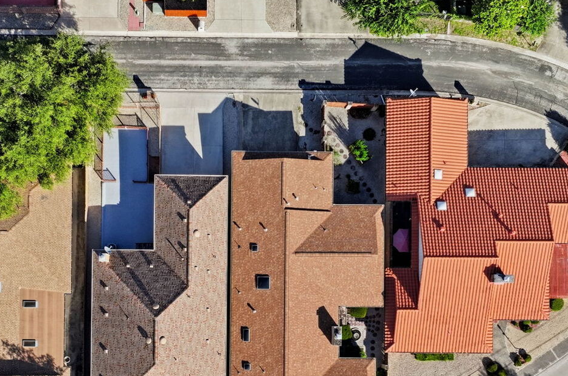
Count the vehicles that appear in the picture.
0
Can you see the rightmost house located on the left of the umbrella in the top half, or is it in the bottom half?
bottom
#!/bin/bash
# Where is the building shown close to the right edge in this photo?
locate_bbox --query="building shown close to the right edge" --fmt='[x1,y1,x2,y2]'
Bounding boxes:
[383,88,568,353]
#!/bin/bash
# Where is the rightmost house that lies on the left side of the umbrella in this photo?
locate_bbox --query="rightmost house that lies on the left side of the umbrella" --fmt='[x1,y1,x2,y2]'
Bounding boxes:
[229,150,386,376]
